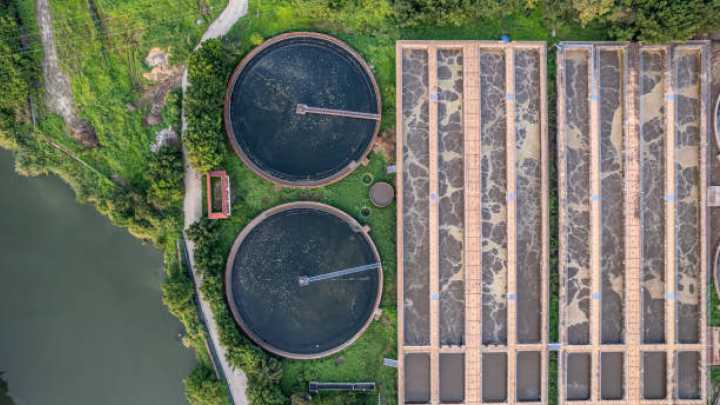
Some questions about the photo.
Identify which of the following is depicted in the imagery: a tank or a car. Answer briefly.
tank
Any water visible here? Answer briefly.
Yes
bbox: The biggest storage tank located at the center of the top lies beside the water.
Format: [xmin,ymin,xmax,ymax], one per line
[225,32,382,188]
